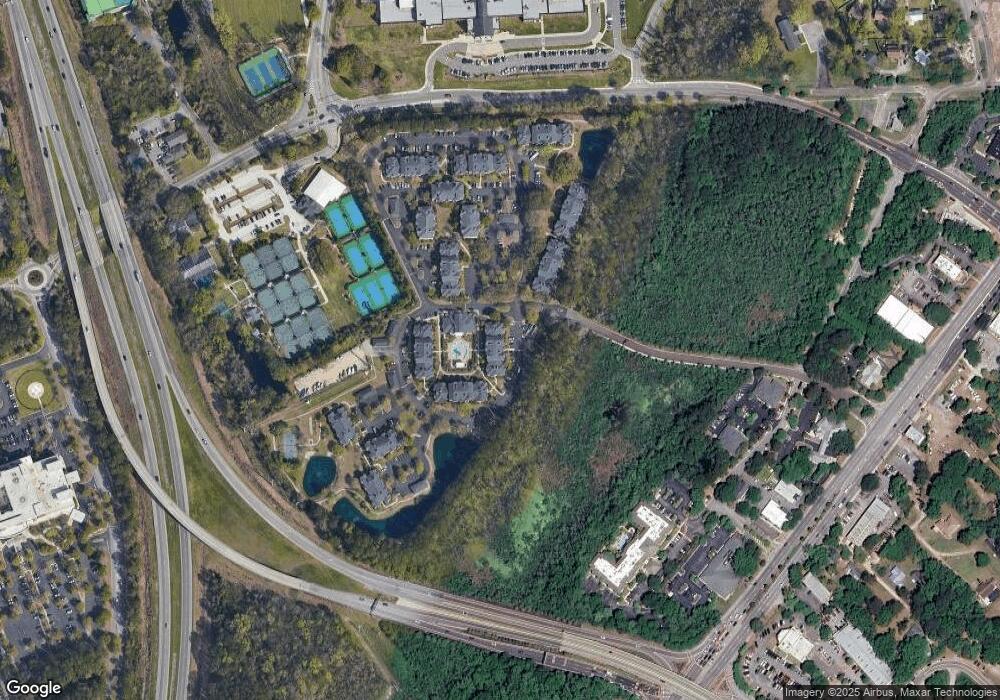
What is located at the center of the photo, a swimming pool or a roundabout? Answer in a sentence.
There is a swimming pool at the center of the photo.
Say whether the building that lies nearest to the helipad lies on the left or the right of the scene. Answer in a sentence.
The building that lies nearest to the helipad appears in the left half of the scene.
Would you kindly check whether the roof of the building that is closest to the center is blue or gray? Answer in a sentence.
The roof of the building that is closest to the center looks gray in the image.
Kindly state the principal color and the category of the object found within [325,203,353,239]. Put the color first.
blue tennis court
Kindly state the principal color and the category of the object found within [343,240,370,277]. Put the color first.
blue tennis court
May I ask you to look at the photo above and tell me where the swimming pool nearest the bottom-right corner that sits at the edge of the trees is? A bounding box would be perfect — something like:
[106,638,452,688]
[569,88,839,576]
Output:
[611,528,634,555]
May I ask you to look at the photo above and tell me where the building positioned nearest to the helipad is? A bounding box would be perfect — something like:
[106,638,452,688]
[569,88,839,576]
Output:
[0,456,79,530]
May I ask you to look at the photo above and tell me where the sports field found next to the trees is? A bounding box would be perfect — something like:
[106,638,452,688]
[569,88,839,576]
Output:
[221,0,305,42]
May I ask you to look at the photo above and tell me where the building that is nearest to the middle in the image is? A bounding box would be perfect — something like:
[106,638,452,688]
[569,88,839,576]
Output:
[483,323,506,376]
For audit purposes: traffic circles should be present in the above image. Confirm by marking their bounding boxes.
[18,258,53,293]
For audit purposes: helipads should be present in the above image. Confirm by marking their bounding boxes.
[17,371,56,409]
